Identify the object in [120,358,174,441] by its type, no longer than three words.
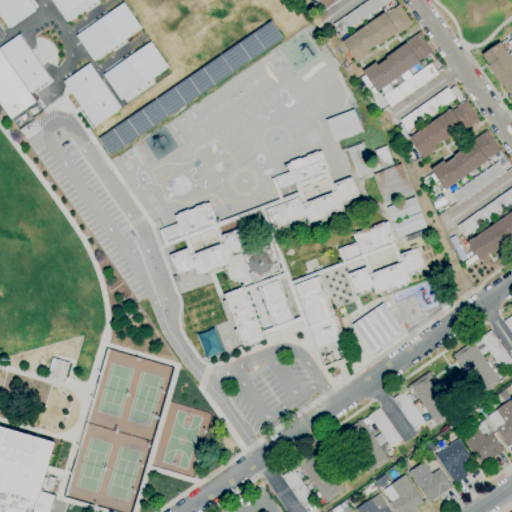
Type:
tennis court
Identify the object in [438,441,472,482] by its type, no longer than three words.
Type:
house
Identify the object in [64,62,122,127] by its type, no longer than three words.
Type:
building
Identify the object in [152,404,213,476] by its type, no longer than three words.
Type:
basketball court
